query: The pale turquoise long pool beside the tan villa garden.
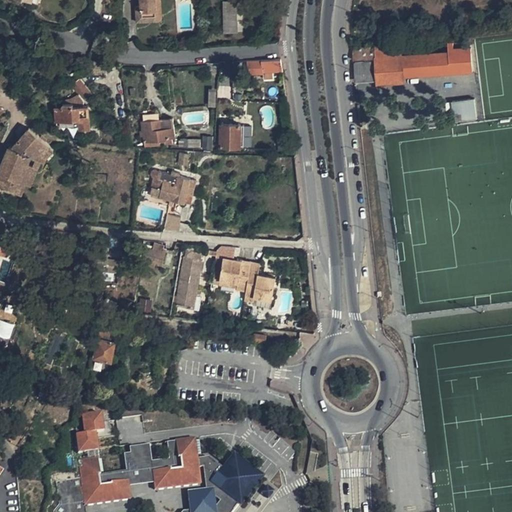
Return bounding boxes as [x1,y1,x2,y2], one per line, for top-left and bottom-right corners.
[269,288,294,316]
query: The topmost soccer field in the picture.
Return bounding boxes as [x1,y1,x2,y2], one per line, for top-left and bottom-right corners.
[476,34,512,120]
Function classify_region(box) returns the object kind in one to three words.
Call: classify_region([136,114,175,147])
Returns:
house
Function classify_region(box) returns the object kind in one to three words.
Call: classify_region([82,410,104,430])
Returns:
building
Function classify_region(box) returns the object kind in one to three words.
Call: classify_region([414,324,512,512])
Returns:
sports field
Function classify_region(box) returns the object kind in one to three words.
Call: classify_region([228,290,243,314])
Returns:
swimming pool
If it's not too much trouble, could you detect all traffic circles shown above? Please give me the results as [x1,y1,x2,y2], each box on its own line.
[318,353,382,417]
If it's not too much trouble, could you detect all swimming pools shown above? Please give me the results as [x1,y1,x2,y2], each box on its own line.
[182,110,208,126]
[269,288,294,316]
[228,290,243,314]
[0,257,11,284]
[268,86,279,98]
[176,0,195,32]
[66,452,74,467]
[137,202,167,226]
[260,105,276,130]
